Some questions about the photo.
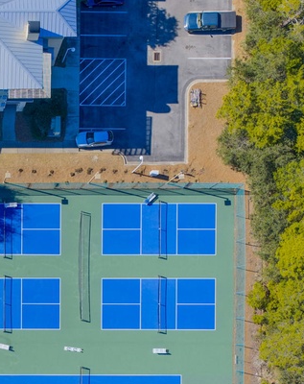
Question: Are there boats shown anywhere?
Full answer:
No, no boat is visible in the scene.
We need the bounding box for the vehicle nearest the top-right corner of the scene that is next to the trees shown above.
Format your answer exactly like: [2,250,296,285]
[185,8,236,30]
